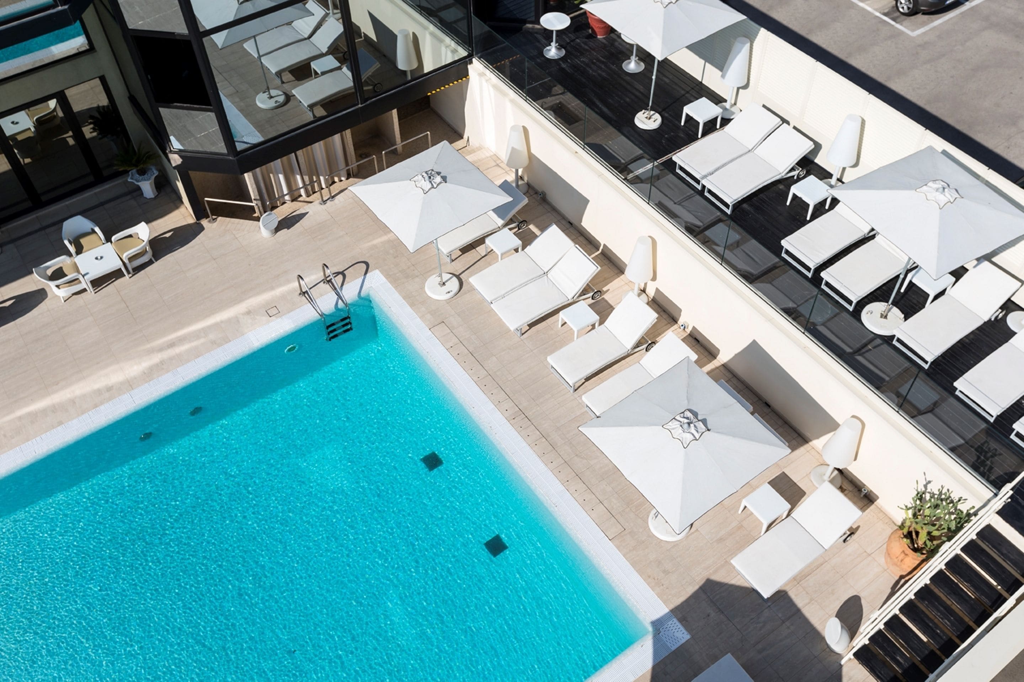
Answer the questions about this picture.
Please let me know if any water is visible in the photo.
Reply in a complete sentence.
Yes, there is water in the image.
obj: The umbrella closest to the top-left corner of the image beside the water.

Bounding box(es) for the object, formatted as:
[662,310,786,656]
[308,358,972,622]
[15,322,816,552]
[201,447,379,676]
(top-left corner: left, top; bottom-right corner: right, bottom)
[348,140,517,299]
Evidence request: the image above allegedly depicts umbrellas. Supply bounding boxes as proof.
[827,143,1024,332]
[348,140,517,299]
[581,359,795,541]
[579,0,748,129]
